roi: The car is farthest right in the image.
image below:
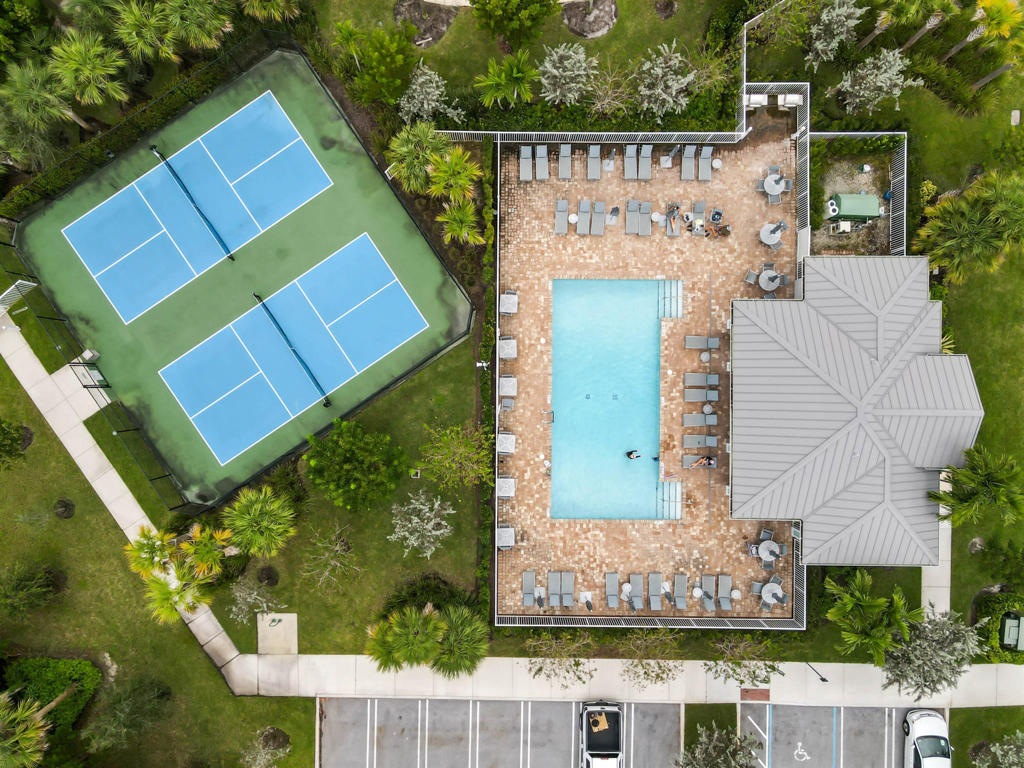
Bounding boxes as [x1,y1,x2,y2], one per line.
[900,706,951,768]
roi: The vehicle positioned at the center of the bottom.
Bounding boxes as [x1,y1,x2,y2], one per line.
[580,692,623,768]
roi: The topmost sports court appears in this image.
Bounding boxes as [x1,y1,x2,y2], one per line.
[60,89,334,325]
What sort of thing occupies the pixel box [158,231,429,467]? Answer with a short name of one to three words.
sports court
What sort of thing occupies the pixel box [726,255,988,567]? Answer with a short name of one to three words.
building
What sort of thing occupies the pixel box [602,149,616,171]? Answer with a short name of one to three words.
umbrella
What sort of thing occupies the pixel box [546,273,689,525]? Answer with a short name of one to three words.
swimming pool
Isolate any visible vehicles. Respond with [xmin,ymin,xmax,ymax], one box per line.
[580,692,623,768]
[900,706,951,768]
